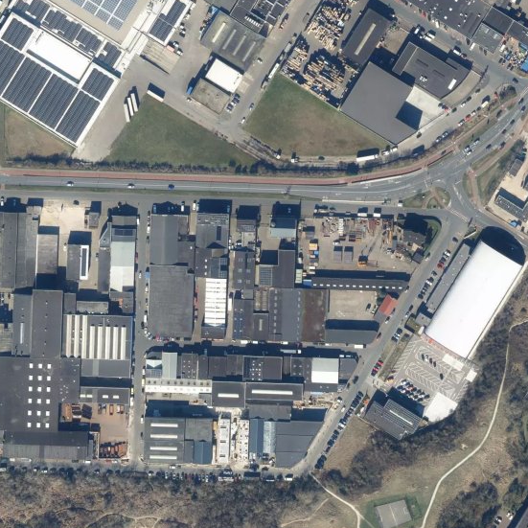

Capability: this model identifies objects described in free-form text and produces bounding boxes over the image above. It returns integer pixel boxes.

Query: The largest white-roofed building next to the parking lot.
[424,239,523,359]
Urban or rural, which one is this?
urban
